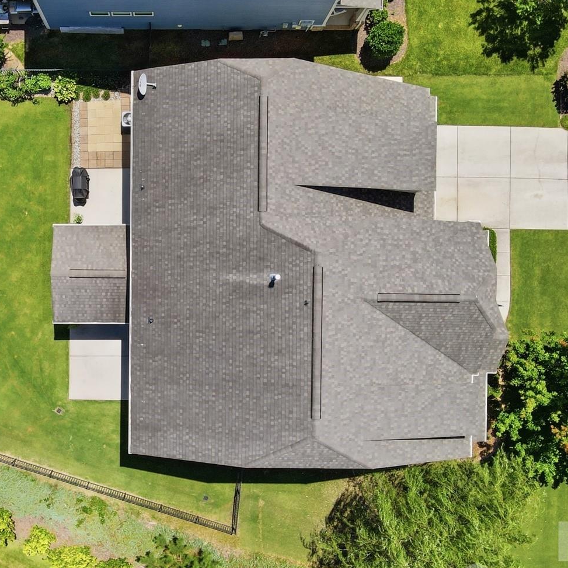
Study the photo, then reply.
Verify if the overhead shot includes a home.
Yes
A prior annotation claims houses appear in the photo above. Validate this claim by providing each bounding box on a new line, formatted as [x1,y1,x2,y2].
[51,56,510,470]
[25,0,384,38]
